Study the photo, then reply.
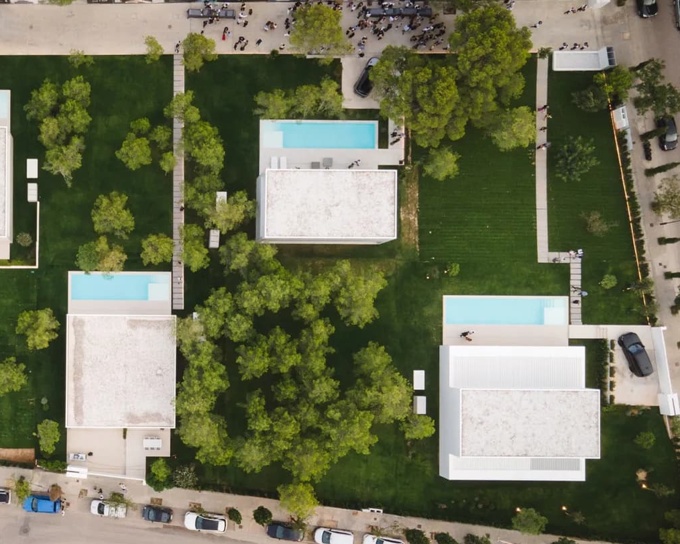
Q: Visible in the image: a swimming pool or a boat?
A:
swimming pool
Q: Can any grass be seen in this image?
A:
Yes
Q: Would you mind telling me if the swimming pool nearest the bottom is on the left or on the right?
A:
right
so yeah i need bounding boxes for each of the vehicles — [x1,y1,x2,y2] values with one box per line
[23,494,62,512]
[265,521,304,540]
[635,0,657,19]
[352,58,381,101]
[0,487,13,503]
[618,331,652,378]
[361,532,405,544]
[90,498,127,517]
[141,504,173,522]
[183,509,227,531]
[313,526,354,544]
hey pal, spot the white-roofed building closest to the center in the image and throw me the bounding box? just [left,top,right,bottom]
[255,170,397,244]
